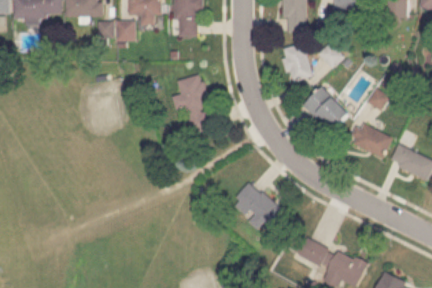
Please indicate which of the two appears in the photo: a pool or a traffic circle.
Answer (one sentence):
Looking from above, you can make out a pool.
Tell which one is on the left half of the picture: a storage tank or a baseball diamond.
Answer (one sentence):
You can see a baseball diamond on the left half of the picture.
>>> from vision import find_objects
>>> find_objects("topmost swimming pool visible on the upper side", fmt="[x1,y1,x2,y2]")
[22,32,40,49]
